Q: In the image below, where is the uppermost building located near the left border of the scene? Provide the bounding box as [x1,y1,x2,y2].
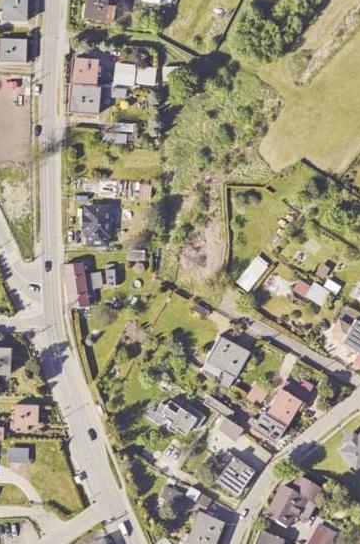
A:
[0,0,28,21]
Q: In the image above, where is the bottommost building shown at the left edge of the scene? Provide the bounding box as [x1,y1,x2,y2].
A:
[7,448,29,462]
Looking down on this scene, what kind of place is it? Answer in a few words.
residential area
